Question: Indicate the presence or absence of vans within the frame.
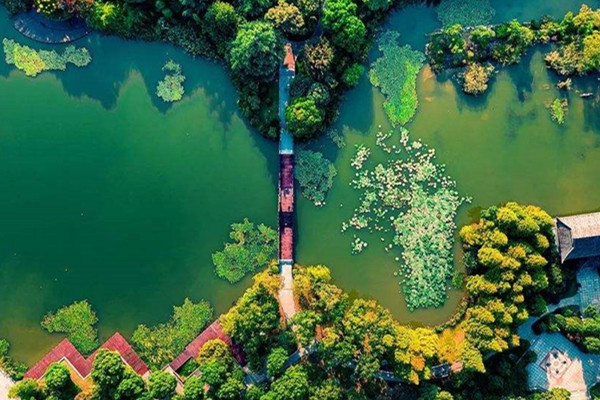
No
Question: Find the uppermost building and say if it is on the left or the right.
right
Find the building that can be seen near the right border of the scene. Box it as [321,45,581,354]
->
[548,212,600,264]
